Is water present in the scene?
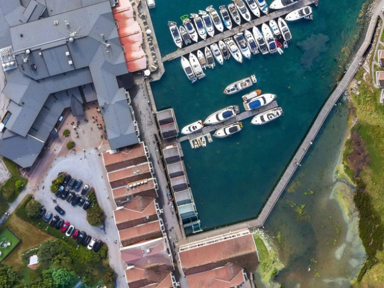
Yes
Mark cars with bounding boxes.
[78,232,86,242]
[66,225,75,236]
[68,178,77,189]
[94,240,102,251]
[83,199,91,209]
[61,189,69,199]
[72,228,81,239]
[55,205,66,214]
[83,235,91,246]
[66,192,76,202]
[61,222,69,232]
[56,218,64,229]
[71,195,81,205]
[81,184,90,195]
[56,185,65,197]
[77,196,86,207]
[38,207,47,218]
[45,211,53,222]
[51,215,59,226]
[75,180,83,191]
